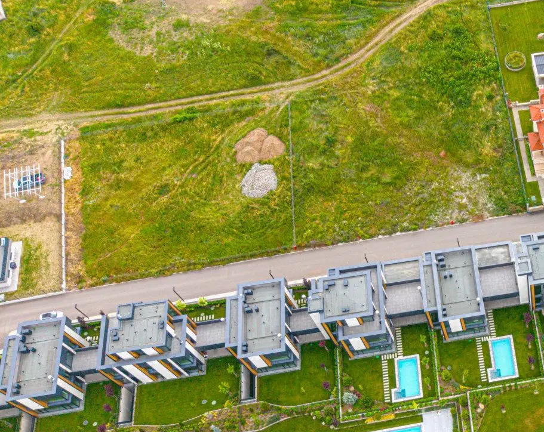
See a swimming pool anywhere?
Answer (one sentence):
Yes, there's a swimming pool down there.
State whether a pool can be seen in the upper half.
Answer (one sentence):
No, no pool can be made out in the upper half.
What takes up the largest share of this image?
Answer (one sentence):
Most of the picture is covered by grass.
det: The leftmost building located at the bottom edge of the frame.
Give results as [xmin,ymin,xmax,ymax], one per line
[0,317,106,422]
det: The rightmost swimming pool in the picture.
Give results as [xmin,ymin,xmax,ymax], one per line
[487,335,518,382]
